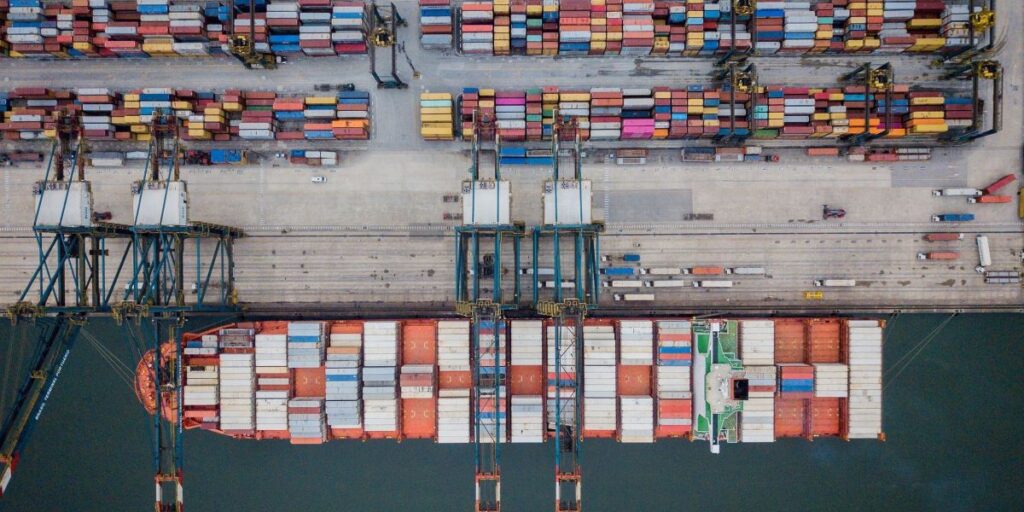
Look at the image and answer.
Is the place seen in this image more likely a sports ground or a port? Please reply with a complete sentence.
What you see here is a port.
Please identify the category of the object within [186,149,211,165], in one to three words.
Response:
work vehicle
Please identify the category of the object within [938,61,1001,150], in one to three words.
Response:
container crane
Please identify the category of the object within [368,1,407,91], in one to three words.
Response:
container crane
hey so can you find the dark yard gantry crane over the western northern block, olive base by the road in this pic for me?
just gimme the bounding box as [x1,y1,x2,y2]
[227,0,275,70]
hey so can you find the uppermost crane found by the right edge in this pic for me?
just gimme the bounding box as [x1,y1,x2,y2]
[934,0,997,70]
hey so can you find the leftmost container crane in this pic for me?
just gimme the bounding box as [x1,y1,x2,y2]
[0,116,171,497]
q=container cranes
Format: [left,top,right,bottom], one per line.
[938,61,1001,150]
[0,116,171,497]
[522,116,612,512]
[712,64,758,150]
[112,116,257,512]
[227,0,275,70]
[837,64,893,150]
[934,0,997,70]
[454,116,532,512]
[368,1,407,91]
